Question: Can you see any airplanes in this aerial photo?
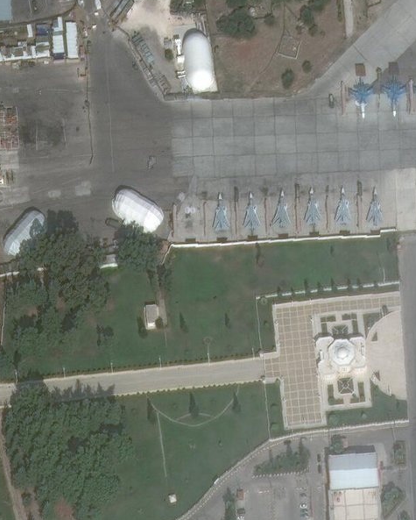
Yes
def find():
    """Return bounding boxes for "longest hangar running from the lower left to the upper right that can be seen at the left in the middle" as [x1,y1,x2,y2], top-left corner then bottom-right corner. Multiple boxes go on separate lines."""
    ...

[3,212,47,257]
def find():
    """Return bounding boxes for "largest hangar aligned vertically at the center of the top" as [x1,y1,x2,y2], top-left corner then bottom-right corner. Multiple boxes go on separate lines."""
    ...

[185,33,217,95]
